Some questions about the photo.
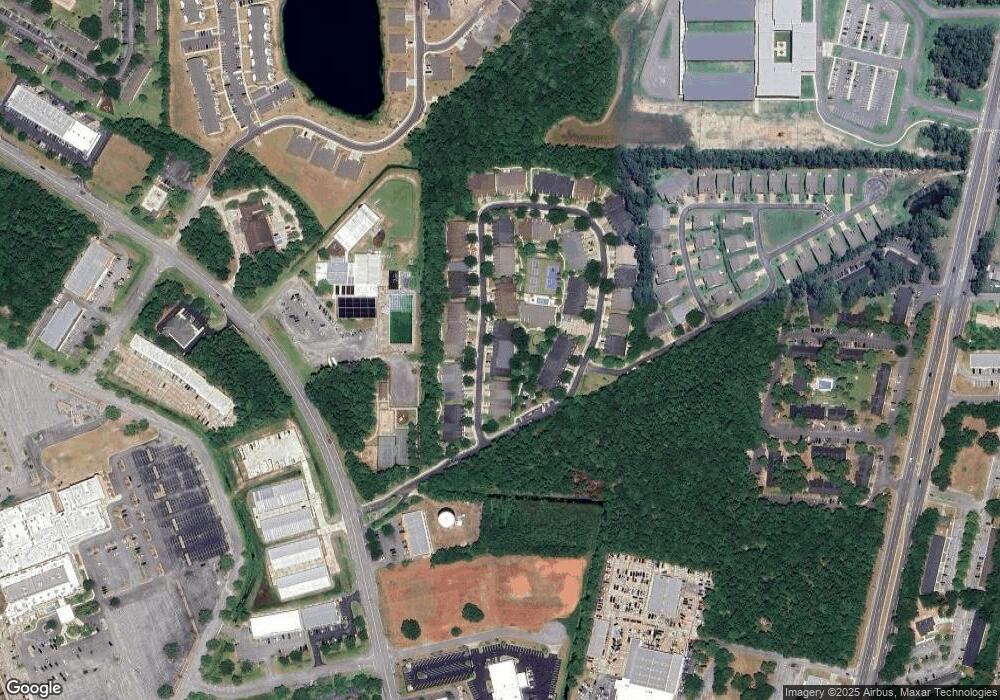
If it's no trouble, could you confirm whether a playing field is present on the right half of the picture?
No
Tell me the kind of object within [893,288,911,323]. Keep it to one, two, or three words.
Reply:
building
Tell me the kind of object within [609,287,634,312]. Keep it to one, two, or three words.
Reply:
house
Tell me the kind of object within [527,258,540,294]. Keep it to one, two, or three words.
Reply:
sports court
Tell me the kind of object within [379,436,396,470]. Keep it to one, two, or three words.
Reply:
tennis court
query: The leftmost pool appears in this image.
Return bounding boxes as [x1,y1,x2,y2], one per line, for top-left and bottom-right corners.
[525,294,561,308]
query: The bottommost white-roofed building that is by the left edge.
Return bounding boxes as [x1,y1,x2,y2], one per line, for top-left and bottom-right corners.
[0,475,122,624]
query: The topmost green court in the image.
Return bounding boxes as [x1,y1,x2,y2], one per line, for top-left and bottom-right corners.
[390,294,412,344]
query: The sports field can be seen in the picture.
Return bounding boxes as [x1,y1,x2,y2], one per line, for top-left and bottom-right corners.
[374,177,414,238]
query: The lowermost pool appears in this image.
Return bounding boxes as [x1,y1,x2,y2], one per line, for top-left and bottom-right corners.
[816,378,833,391]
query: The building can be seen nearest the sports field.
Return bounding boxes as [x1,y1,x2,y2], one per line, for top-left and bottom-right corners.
[335,205,378,251]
